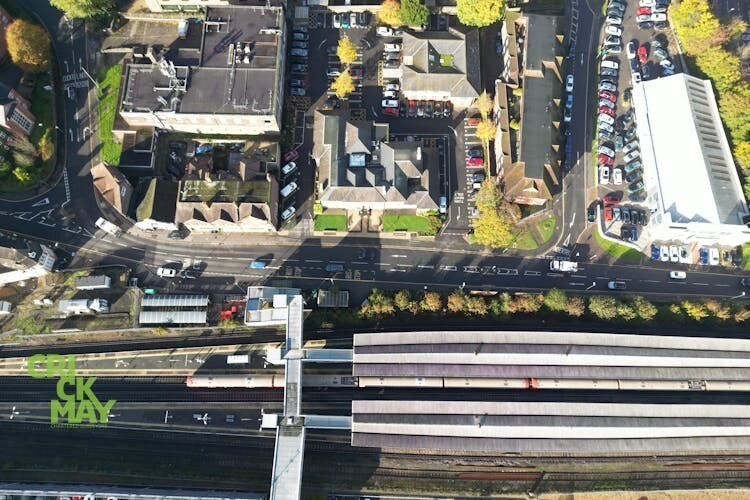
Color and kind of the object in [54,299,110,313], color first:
white vehicle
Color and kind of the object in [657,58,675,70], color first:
white vehicle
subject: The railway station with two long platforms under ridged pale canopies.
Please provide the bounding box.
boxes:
[0,331,750,451]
